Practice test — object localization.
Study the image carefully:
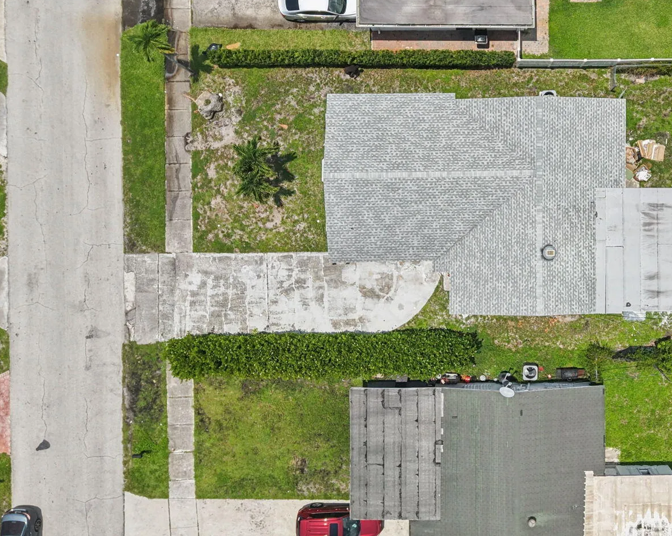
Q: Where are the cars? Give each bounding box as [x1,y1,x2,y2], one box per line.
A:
[279,0,354,27]
[297,504,383,536]
[0,510,43,536]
